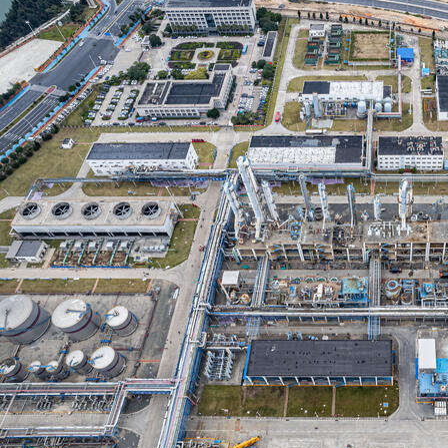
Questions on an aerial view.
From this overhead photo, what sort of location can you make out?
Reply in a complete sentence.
This looks like an industrial area.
